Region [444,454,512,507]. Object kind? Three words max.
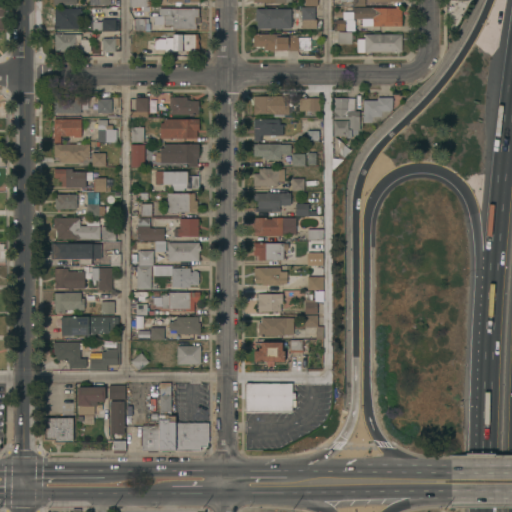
overpass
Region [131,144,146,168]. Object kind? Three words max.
building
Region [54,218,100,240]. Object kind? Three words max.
house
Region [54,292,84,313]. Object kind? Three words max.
house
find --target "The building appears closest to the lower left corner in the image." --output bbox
[46,418,75,442]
